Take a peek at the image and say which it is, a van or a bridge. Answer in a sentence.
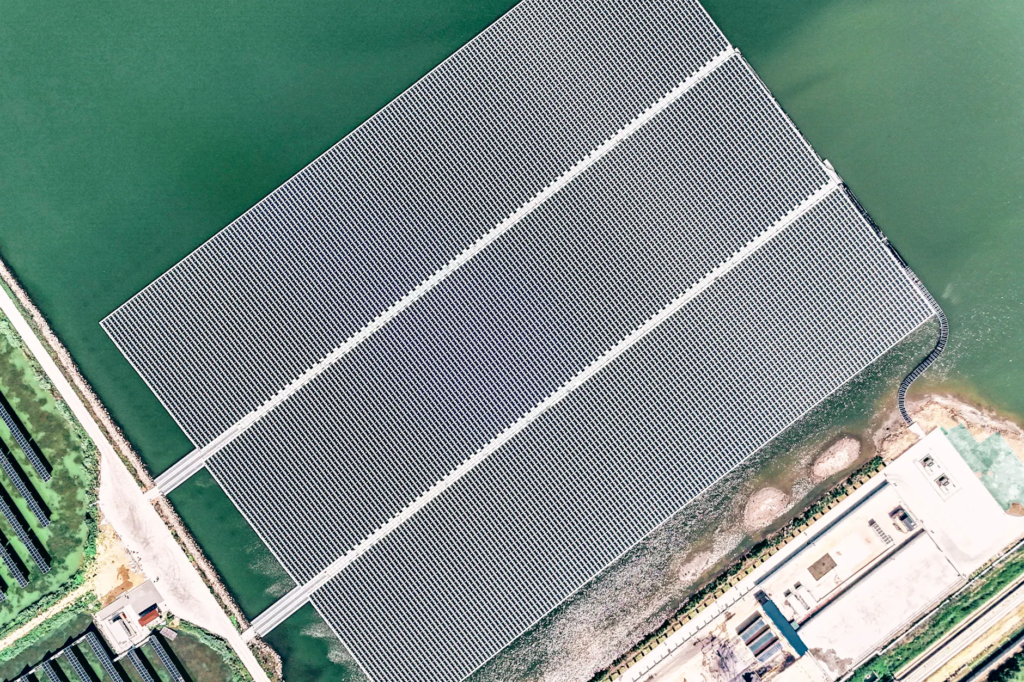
There is a bridge in the scene.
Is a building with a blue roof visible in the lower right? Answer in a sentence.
Yes, a building with a blue roof appears in the lower right.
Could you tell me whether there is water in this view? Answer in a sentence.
Yes, water shows up in the scene.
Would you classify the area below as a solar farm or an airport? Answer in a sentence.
The area seen from above is a solar farm.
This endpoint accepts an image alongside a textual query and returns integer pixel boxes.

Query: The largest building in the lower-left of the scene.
[96,578,170,653]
